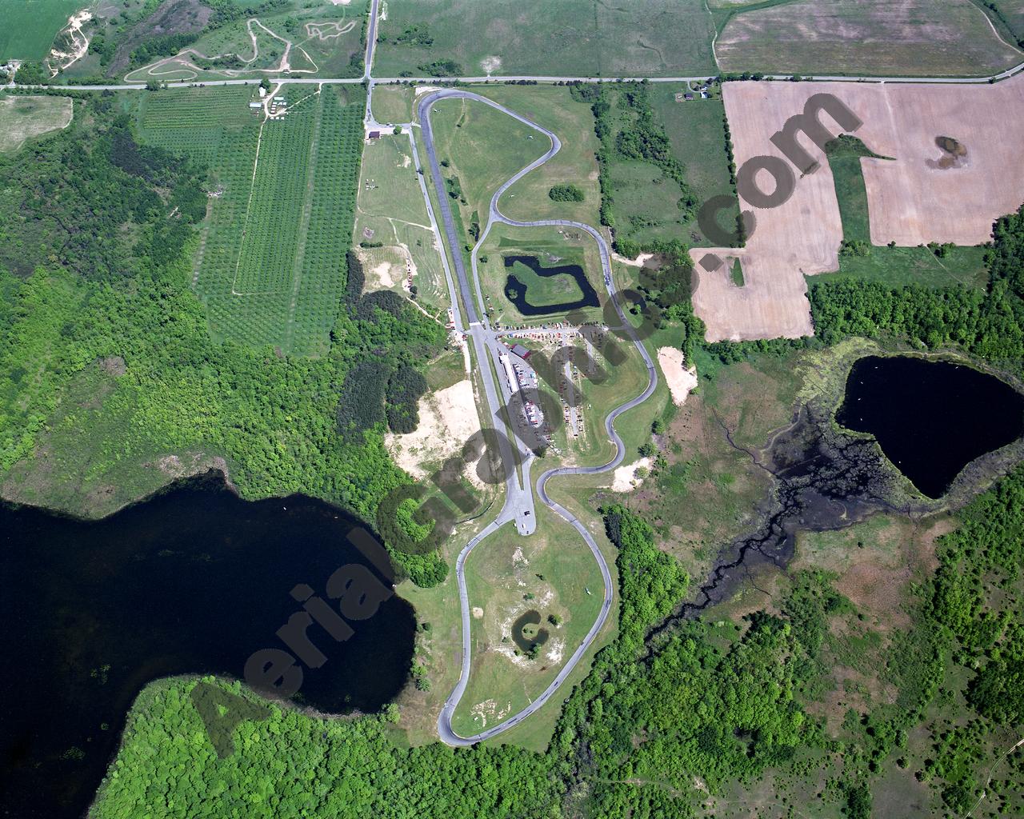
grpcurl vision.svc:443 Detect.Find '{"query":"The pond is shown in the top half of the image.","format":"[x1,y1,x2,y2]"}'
[504,256,599,315]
